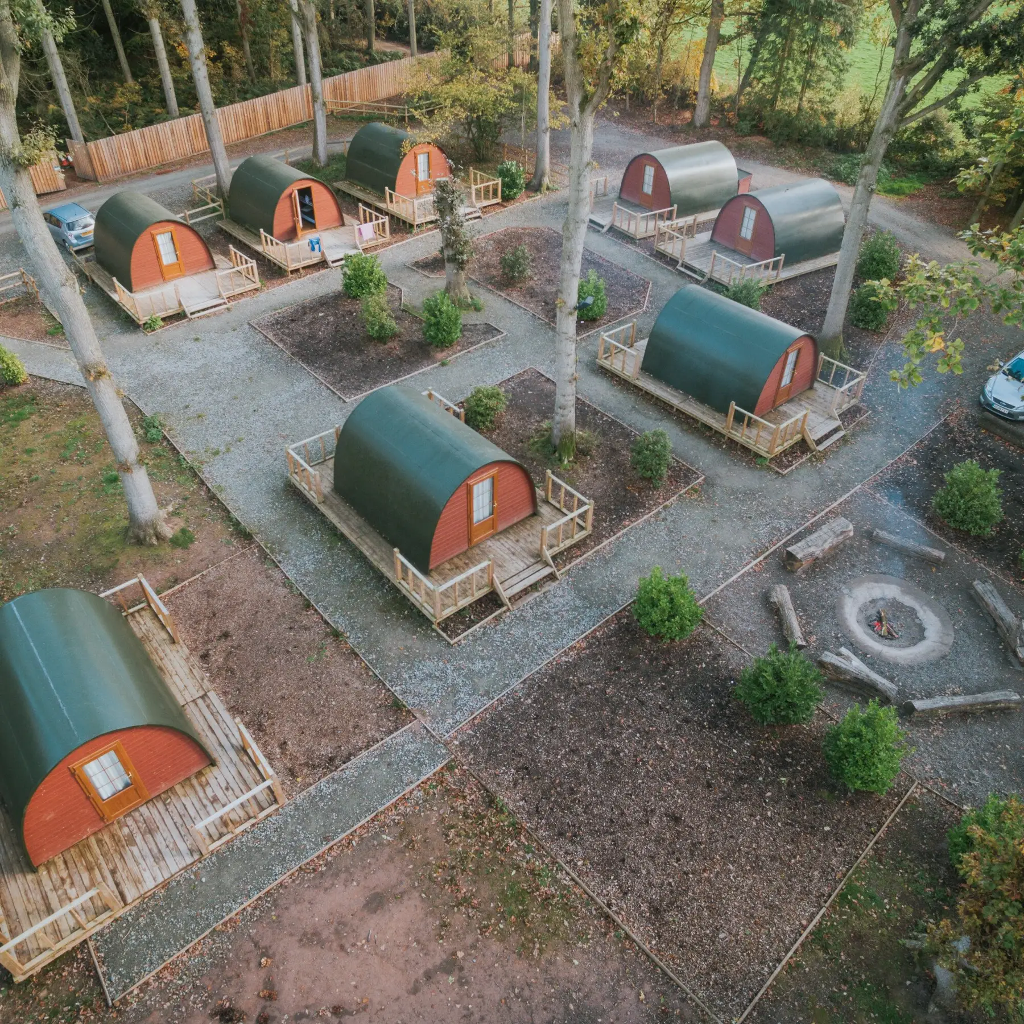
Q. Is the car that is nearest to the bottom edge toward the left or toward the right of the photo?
right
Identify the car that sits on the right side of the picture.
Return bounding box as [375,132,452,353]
[979,353,1024,422]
